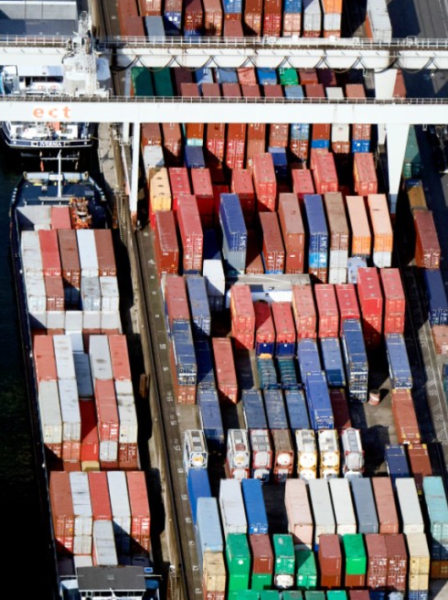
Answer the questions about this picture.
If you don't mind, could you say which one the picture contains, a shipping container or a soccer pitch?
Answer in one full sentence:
The image shows a shipping container.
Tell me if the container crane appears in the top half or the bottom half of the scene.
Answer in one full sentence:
Seen from above, the container crane lies in the top half of the view.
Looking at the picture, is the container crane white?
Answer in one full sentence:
Yes, the container crane is white.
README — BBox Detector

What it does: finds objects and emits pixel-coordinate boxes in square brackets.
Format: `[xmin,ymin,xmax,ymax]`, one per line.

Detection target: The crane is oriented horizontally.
[0,0,448,215]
